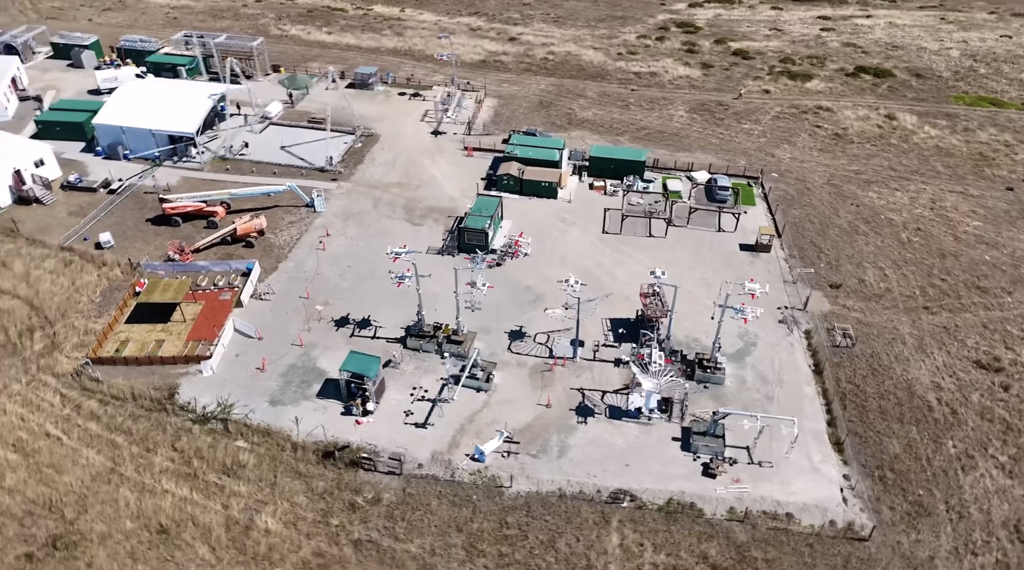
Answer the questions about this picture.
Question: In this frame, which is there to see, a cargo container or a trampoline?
cargo container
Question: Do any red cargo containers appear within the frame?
No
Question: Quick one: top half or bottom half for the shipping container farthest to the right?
top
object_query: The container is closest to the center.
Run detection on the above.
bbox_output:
[459,193,502,255]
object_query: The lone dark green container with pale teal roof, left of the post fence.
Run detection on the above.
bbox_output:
[586,142,647,180]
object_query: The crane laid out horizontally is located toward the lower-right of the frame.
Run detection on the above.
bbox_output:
[708,406,799,456]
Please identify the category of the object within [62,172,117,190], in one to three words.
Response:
trailer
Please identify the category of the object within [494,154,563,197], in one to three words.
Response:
shed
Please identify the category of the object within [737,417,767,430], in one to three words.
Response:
airplane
